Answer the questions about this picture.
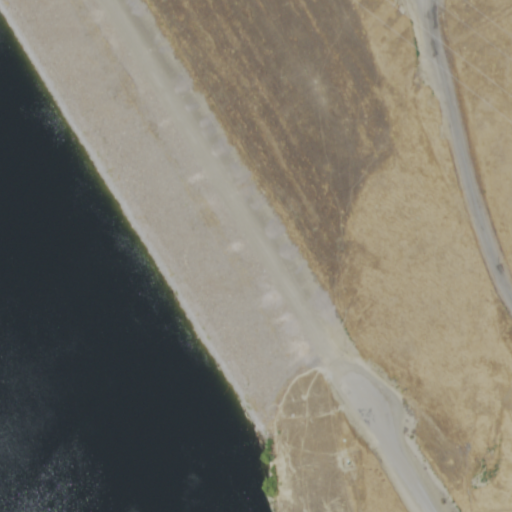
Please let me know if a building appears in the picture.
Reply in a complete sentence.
No, I can't see a single building in this photo.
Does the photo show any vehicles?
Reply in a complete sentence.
No, the picture doesn't show any vehicle.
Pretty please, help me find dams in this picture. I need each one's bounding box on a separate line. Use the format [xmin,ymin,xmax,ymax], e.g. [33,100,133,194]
[0,0,420,425]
